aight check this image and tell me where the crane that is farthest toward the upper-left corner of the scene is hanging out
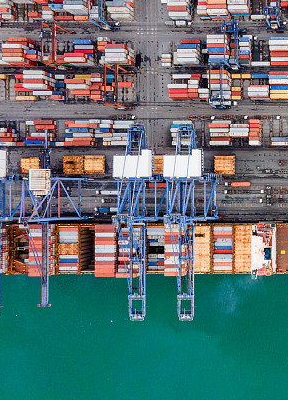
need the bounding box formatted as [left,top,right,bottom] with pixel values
[41,21,78,71]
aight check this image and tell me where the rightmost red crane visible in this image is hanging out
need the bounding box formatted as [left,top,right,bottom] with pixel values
[104,63,135,109]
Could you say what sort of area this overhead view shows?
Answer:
port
